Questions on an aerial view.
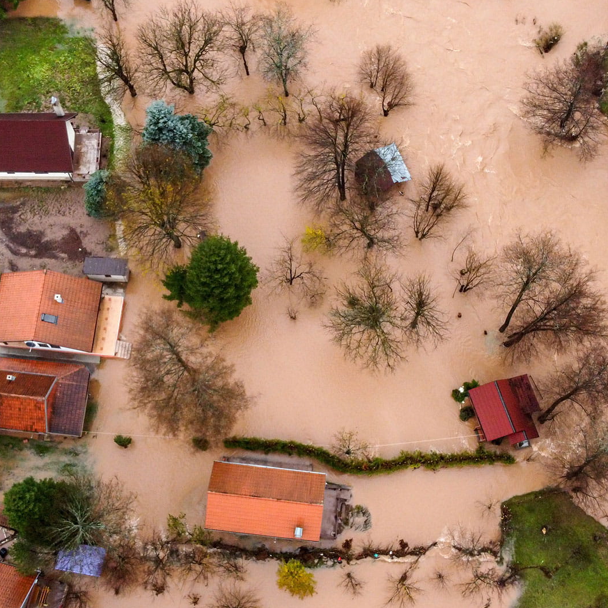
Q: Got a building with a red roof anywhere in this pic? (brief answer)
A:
Yes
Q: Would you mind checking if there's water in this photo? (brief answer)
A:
Yes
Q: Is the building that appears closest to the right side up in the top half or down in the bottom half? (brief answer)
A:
bottom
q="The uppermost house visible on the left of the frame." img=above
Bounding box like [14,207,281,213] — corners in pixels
[0,98,101,185]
